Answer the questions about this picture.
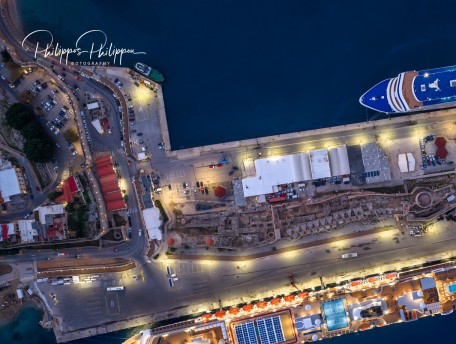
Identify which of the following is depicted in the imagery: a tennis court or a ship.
ship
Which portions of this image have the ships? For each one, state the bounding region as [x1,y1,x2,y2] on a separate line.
[123,260,456,344]
[359,65,456,109]
[131,57,165,81]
